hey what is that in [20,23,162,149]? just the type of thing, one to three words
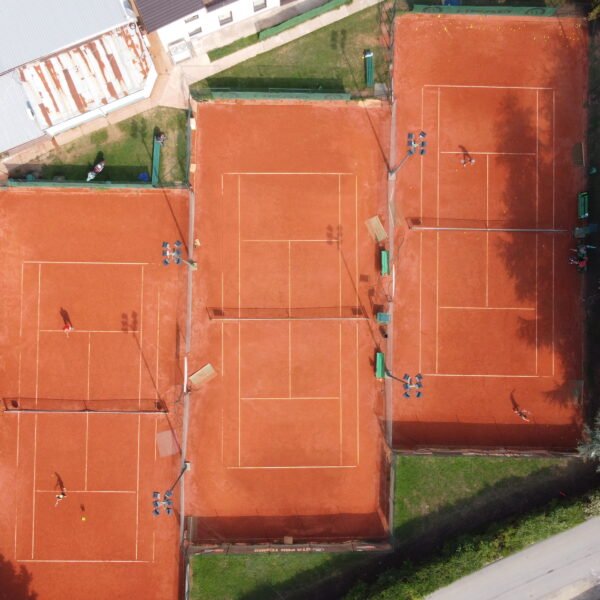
shed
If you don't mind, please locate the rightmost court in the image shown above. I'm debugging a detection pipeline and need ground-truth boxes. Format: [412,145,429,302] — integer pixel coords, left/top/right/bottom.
[393,15,588,457]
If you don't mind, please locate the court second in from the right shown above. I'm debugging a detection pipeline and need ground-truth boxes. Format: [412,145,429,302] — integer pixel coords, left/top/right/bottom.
[187,100,393,547]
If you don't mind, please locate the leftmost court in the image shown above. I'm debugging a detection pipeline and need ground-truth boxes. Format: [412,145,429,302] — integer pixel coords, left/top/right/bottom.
[0,188,191,600]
